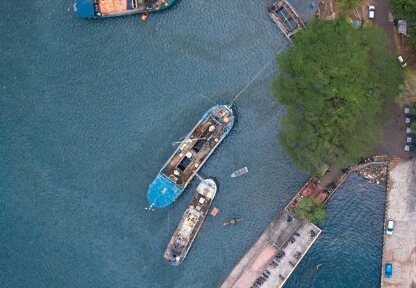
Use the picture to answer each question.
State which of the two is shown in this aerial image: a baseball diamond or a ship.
ship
